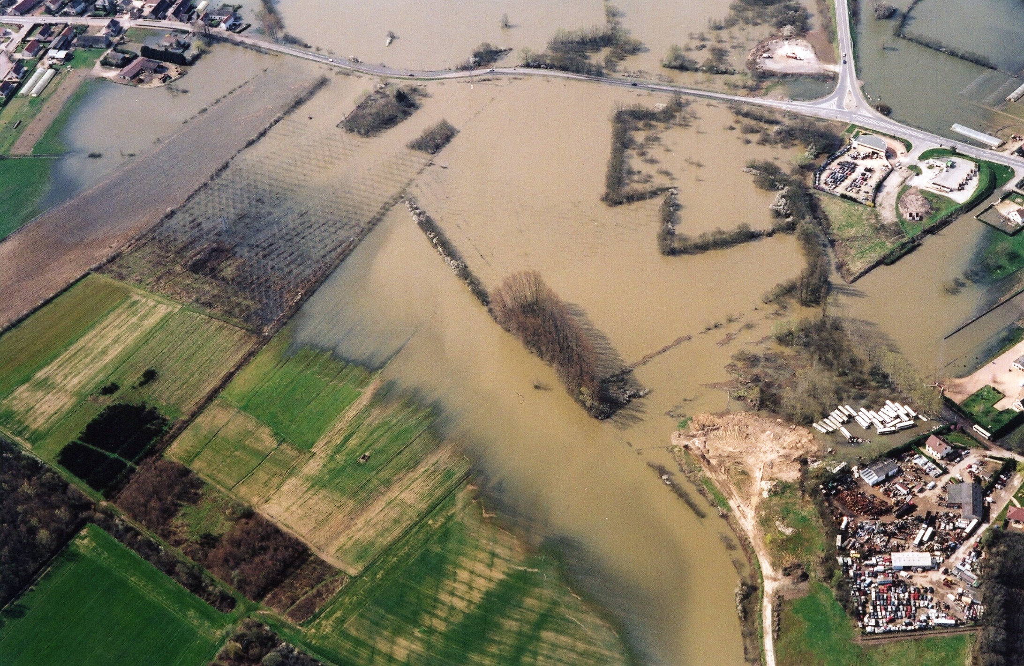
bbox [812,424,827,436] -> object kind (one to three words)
vehicle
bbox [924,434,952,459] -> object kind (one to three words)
house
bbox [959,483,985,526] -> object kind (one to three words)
hangar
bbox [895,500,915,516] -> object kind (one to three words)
vehicle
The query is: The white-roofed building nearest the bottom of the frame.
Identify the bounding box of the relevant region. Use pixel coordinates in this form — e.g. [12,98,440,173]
[887,549,935,573]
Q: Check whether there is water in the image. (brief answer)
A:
Yes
